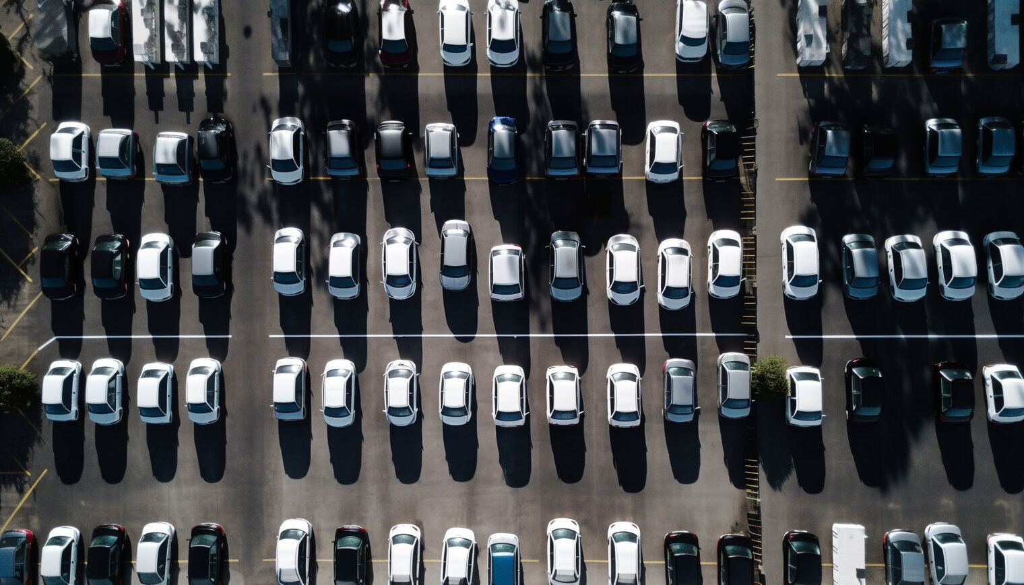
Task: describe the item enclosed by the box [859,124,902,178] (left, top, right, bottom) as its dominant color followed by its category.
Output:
black car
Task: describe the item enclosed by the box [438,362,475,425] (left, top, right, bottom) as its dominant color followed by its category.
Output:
white car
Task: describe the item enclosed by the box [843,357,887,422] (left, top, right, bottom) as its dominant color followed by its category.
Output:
black car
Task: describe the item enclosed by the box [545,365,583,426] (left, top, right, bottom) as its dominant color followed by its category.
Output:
white car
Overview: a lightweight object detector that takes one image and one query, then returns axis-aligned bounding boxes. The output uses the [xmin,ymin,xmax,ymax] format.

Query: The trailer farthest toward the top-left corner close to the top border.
[38,0,84,62]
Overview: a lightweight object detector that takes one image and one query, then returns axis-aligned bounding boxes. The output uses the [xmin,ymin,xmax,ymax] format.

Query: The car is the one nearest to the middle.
[488,243,527,302]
